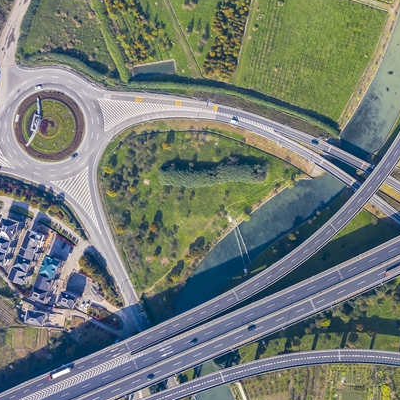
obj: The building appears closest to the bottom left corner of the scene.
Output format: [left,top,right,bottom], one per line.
[24,308,52,330]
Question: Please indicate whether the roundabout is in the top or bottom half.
top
